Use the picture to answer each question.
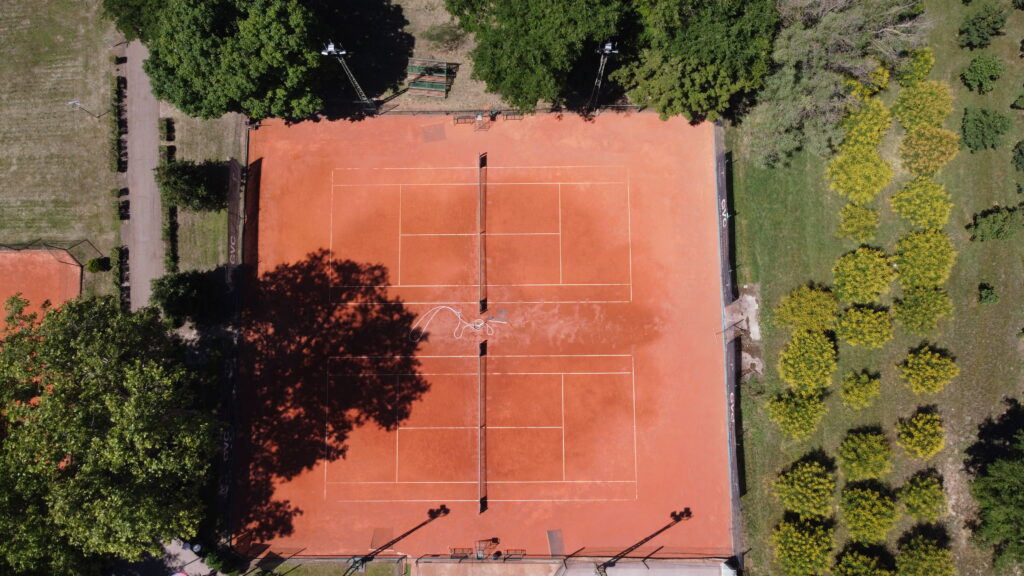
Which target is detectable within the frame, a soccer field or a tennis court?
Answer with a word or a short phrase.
tennis court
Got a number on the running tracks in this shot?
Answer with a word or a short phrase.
0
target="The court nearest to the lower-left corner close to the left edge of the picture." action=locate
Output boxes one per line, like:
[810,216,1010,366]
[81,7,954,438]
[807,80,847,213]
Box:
[0,249,81,567]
